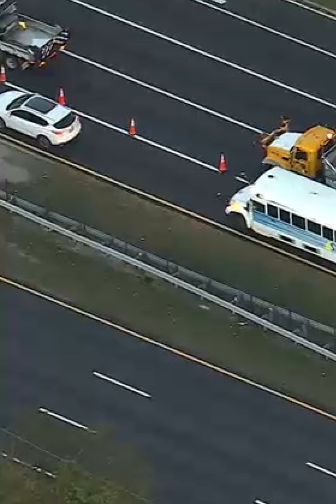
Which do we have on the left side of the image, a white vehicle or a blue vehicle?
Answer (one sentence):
You can see a white vehicle on the left side of the image.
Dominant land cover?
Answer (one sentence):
The scene is dominated by paved ground.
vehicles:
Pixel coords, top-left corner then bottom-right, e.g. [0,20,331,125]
[0,91,78,147]
[222,166,336,264]
[0,2,67,70]
[258,116,336,189]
